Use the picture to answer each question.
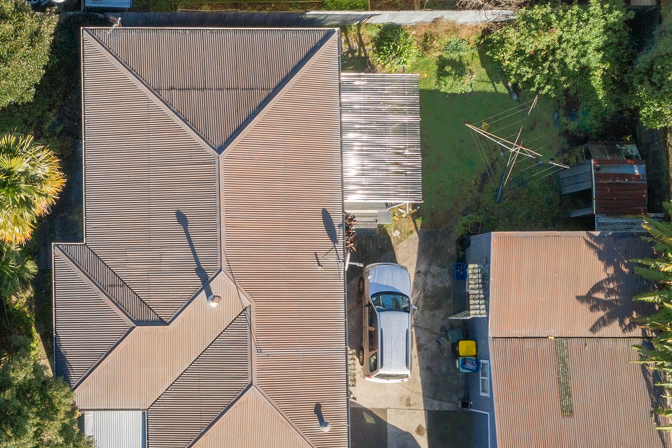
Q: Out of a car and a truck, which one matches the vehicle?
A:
car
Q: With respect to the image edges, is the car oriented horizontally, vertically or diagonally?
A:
vertically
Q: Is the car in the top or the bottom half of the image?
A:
bottom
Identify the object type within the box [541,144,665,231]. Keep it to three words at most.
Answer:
shed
